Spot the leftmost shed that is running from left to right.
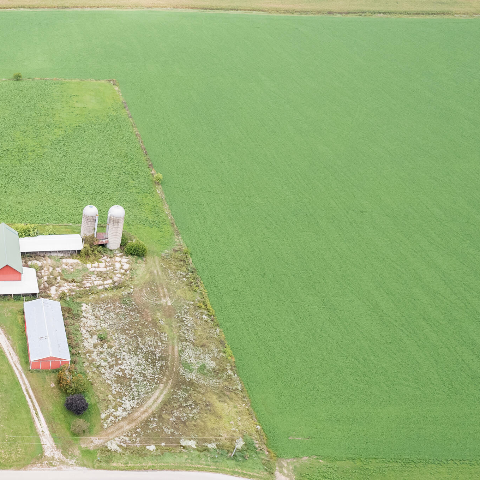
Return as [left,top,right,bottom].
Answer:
[20,235,82,256]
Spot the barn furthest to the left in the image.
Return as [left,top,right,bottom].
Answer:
[0,222,38,298]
